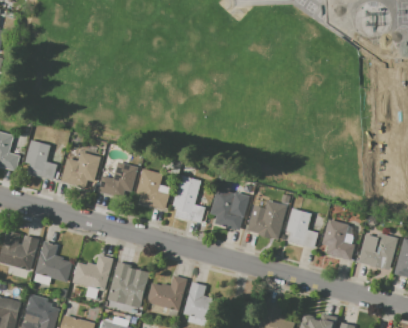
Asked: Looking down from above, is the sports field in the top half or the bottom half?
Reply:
top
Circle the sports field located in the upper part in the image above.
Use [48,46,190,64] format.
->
[8,0,362,196]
